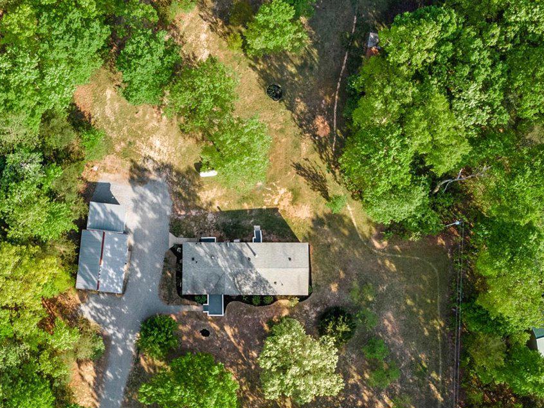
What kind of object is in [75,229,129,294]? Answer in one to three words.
building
